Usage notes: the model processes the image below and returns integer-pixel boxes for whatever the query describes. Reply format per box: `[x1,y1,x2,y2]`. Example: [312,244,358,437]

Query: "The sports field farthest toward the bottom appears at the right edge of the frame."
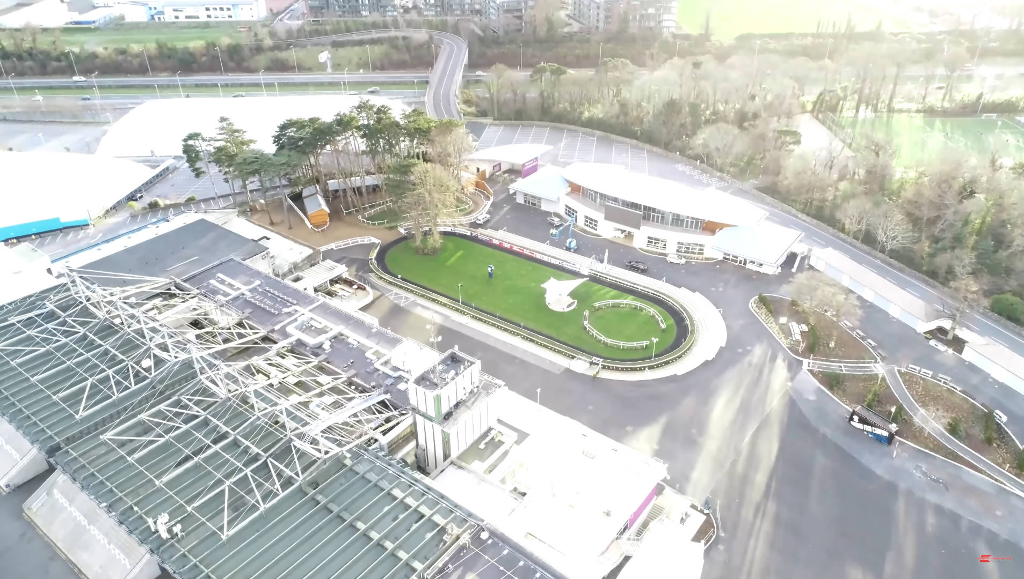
[831,116,1024,177]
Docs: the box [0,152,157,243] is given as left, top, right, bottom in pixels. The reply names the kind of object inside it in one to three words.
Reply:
building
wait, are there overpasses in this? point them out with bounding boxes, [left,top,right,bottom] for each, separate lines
[210,27,471,128]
